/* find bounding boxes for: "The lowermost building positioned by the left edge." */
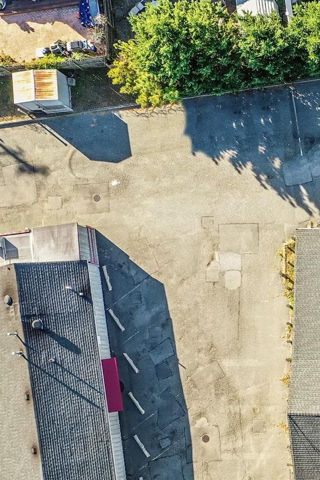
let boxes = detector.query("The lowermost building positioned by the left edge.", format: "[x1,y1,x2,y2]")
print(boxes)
[0,223,127,480]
